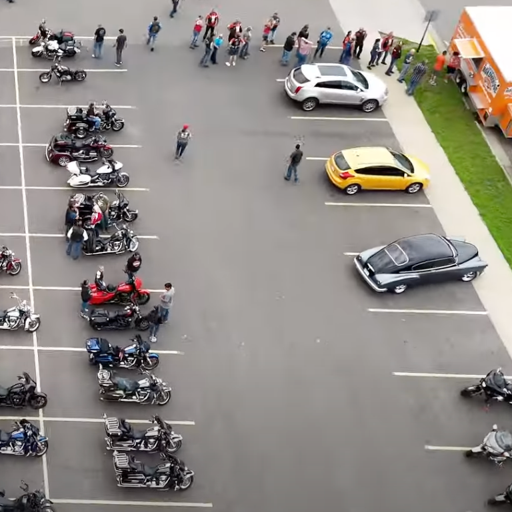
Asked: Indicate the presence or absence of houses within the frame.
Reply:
No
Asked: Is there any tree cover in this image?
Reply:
No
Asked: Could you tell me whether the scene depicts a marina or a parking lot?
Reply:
parking lot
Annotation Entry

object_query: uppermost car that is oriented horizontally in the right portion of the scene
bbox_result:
[283,61,391,111]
